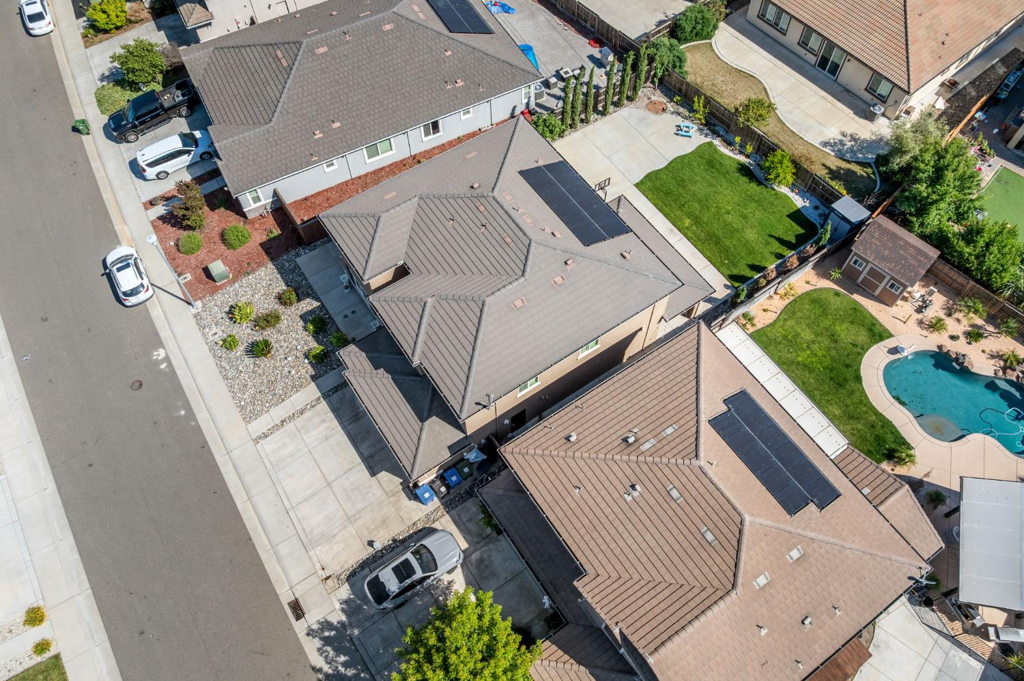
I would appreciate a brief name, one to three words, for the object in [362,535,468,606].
car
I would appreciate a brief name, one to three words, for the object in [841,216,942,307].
shed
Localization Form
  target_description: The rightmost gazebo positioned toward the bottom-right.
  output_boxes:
[936,479,1024,613]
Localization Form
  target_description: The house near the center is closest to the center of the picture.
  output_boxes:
[316,115,718,490]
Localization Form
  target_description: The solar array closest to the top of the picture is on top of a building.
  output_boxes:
[429,0,496,32]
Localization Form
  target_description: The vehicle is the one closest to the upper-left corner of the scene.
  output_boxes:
[18,0,57,37]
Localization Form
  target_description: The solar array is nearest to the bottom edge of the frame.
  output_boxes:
[707,388,843,514]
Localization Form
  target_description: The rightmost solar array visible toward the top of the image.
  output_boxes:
[516,160,628,246]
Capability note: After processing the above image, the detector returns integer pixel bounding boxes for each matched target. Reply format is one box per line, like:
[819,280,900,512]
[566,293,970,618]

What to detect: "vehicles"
[107,248,159,315]
[102,79,199,142]
[129,129,216,180]
[18,0,57,37]
[362,535,468,606]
